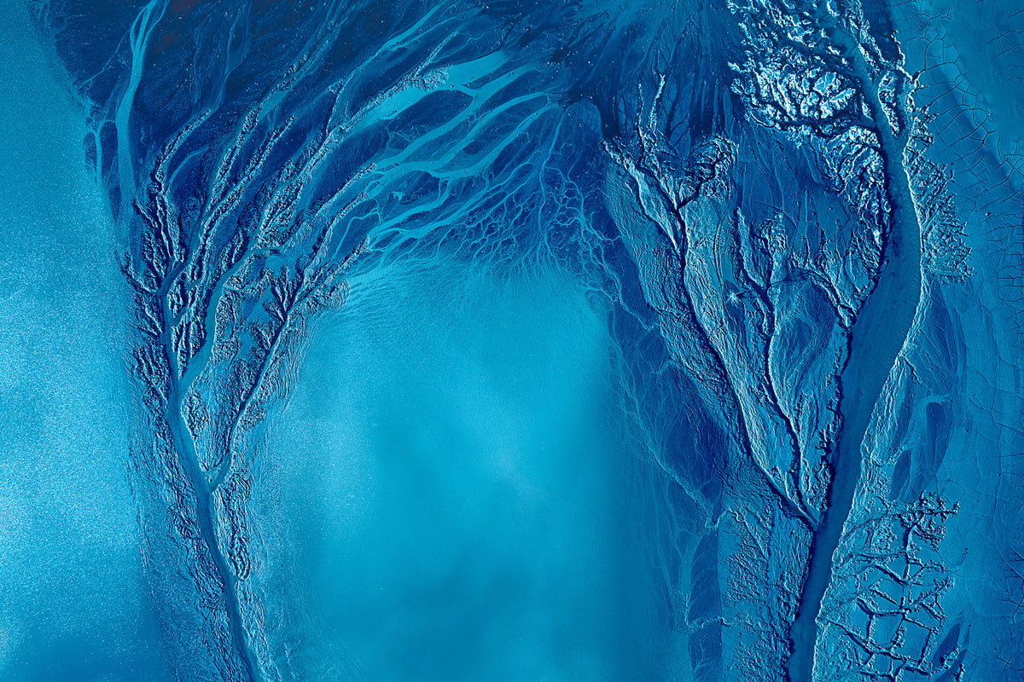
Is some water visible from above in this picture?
Yes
